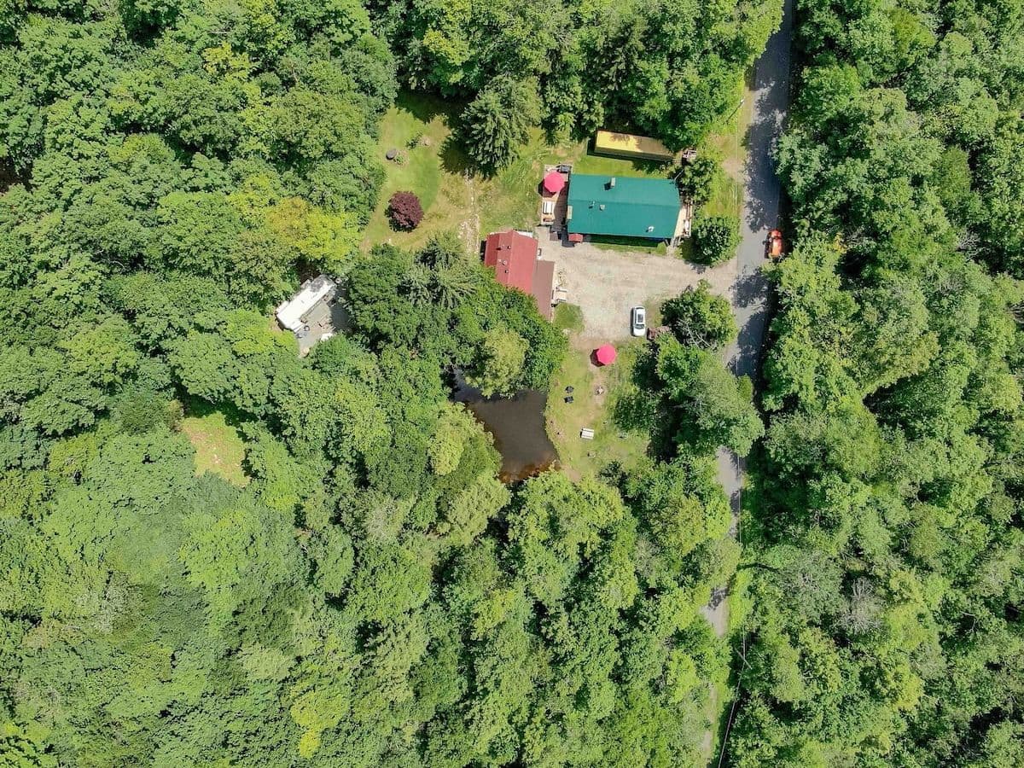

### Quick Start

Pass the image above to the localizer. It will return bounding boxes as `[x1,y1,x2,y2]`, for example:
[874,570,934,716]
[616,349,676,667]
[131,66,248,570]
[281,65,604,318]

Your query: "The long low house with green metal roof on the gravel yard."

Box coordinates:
[567,174,681,243]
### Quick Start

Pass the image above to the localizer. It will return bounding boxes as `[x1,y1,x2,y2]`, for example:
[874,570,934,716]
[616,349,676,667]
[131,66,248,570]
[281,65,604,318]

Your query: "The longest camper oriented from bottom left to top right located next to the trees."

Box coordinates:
[275,274,339,333]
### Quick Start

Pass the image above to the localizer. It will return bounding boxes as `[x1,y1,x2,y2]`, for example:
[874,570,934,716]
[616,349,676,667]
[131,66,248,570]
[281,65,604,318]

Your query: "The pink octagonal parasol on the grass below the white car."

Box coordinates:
[594,344,615,365]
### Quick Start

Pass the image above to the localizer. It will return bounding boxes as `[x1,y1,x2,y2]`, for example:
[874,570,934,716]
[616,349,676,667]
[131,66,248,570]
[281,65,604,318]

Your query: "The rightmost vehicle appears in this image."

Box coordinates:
[768,231,783,260]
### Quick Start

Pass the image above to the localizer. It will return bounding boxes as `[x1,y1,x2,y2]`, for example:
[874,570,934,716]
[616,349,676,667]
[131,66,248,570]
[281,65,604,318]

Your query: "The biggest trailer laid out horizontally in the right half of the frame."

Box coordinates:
[593,133,676,164]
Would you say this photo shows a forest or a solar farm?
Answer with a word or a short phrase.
forest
